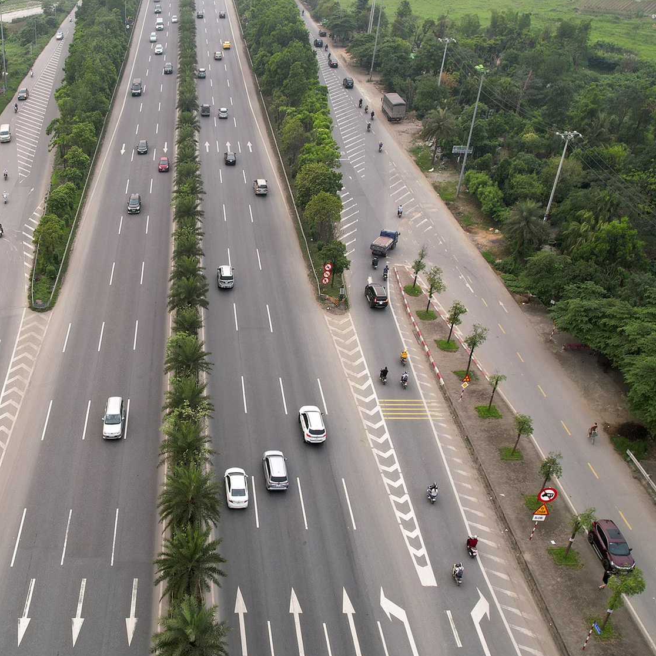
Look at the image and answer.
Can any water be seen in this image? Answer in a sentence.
No, there's no water in this view.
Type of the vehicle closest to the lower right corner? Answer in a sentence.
The vehicle closest to the lower right corner in the image is an automobile.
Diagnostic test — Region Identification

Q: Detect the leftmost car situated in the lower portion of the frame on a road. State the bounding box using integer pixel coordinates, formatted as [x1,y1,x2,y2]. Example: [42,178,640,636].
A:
[99,397,126,439]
